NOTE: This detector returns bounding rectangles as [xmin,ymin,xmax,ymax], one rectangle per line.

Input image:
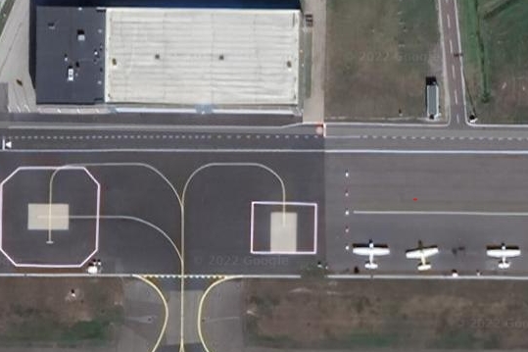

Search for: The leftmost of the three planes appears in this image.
[352,243,389,270]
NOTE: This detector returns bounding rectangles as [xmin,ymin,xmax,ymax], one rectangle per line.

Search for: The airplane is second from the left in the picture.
[405,246,438,273]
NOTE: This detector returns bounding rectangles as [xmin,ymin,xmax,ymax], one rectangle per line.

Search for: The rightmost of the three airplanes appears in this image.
[486,246,520,271]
